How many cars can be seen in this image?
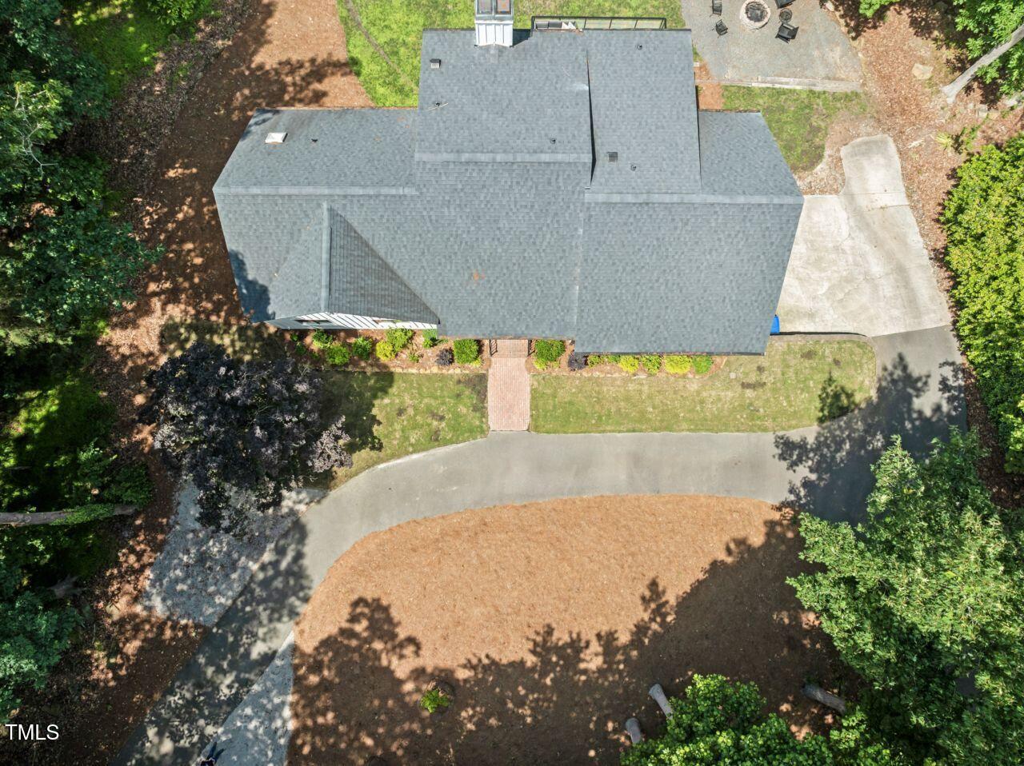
0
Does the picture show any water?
No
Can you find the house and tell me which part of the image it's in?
top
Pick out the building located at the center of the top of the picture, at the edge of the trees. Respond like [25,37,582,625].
[214,0,803,359]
